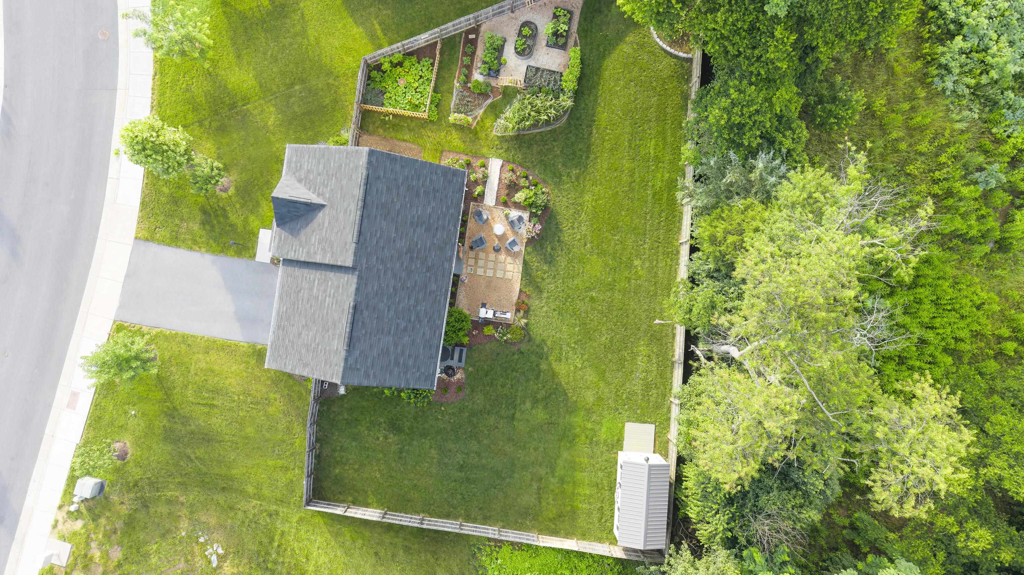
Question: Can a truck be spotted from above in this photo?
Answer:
No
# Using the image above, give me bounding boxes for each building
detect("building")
[613,451,669,552]
[263,143,470,392]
